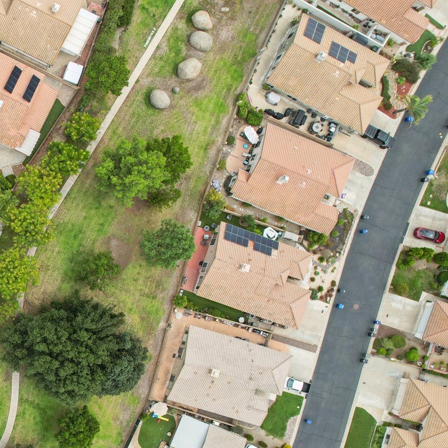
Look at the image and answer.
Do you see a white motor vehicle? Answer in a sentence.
Yes, the picture does show a white motor vehicle.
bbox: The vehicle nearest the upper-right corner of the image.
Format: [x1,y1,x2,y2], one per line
[364,124,397,148]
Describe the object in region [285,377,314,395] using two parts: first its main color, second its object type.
white vehicle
